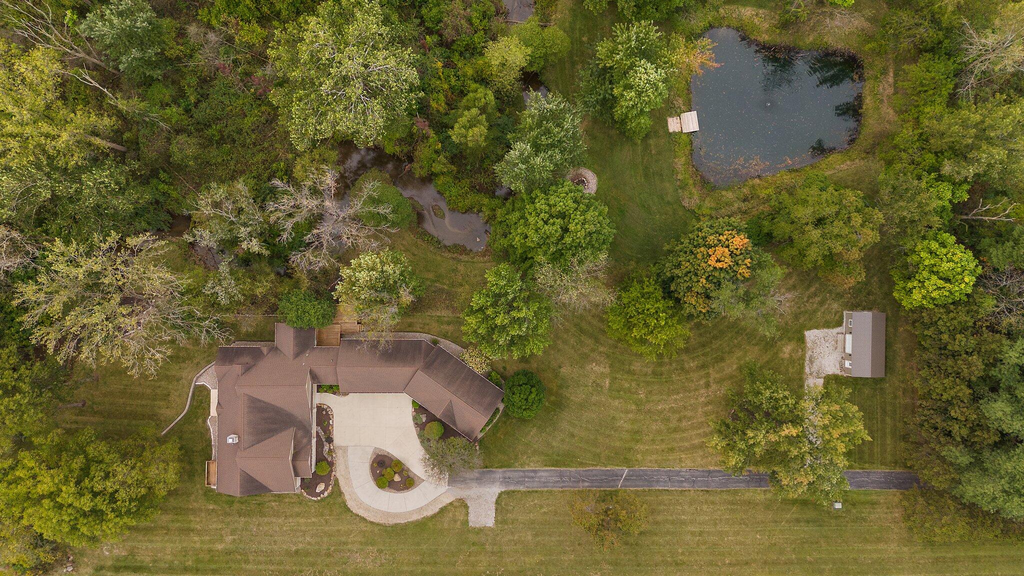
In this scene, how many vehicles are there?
0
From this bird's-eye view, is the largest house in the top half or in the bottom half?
bottom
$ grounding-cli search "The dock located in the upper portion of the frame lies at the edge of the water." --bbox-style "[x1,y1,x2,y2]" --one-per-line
[680,110,700,132]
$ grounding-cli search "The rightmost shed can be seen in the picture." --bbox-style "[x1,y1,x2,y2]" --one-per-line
[844,312,885,378]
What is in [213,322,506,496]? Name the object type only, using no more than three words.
house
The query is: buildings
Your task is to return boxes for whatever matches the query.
[844,312,885,378]
[213,322,506,496]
